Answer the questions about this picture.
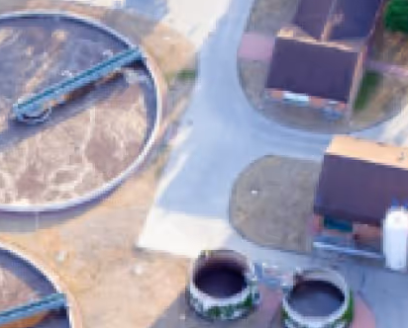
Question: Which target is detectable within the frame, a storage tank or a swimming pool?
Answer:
storage tank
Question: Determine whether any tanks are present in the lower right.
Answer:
Yes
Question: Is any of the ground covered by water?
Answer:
Yes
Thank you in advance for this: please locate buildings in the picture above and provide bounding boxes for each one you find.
[267,0,382,122]
[309,135,408,253]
